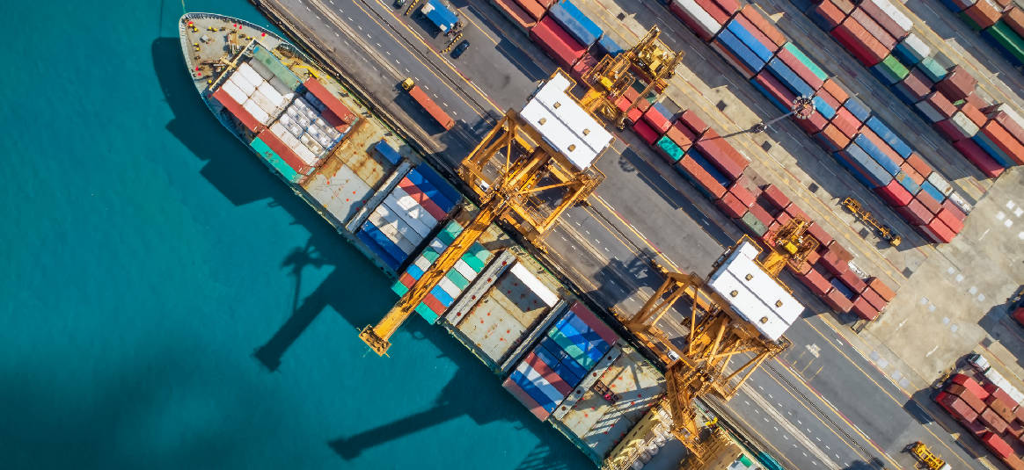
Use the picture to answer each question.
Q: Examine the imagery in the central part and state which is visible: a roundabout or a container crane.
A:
container crane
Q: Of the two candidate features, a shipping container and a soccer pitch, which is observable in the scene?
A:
shipping container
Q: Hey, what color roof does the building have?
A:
blue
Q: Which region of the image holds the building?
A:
top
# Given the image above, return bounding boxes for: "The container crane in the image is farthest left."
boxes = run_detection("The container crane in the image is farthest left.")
[365,58,629,353]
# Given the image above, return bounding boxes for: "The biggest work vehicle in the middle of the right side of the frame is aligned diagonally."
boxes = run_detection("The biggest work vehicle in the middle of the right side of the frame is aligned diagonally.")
[842,195,902,247]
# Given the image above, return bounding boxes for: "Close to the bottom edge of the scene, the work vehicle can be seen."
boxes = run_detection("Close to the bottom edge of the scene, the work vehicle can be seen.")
[906,435,955,470]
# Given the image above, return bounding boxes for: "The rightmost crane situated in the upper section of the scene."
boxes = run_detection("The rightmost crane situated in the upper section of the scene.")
[614,18,683,129]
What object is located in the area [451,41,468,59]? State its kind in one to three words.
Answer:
car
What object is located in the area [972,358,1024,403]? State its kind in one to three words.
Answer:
shipping container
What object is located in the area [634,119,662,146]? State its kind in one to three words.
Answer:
shipping container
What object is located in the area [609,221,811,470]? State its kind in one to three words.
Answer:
container crane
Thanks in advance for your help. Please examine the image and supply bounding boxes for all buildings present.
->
[419,0,459,35]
